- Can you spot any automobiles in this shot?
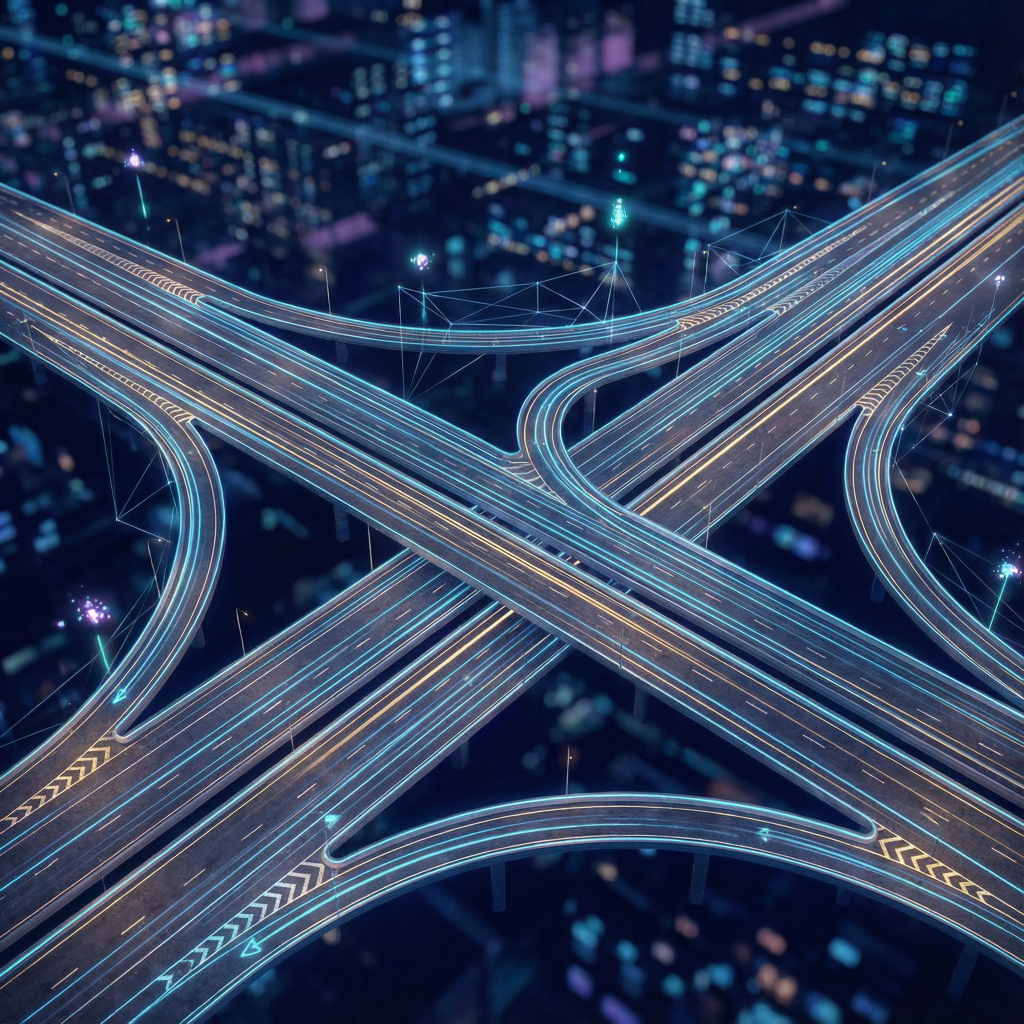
No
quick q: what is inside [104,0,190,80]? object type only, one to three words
building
